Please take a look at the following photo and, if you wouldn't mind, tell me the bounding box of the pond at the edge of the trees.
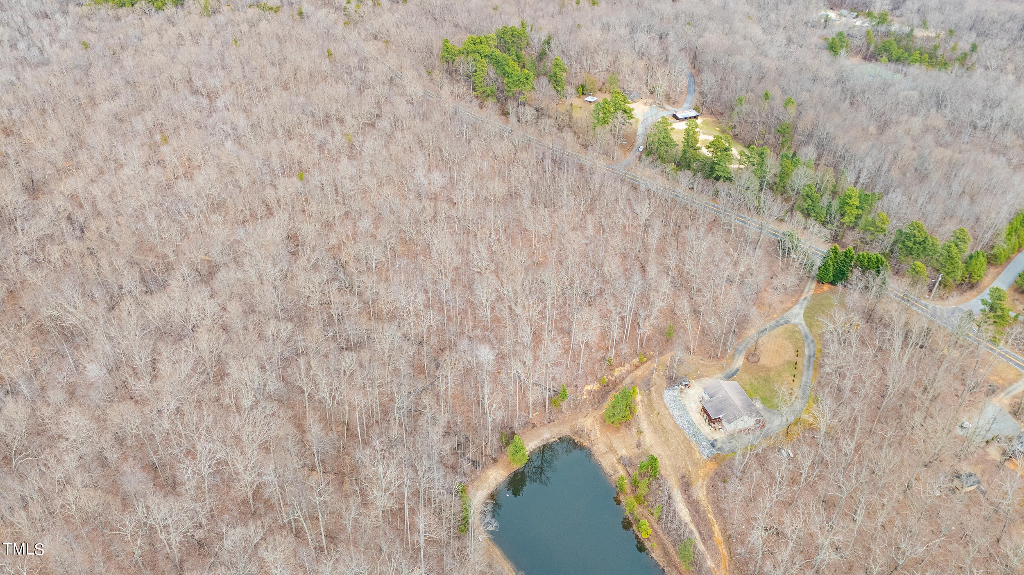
[488,436,665,575]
